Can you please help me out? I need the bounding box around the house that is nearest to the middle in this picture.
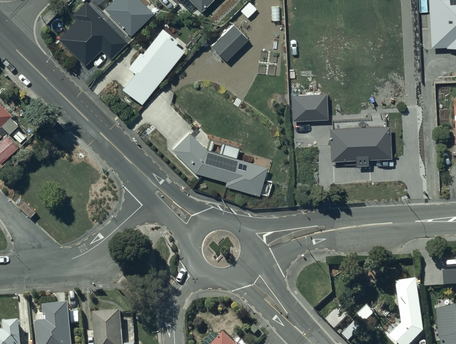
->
[174,134,267,198]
